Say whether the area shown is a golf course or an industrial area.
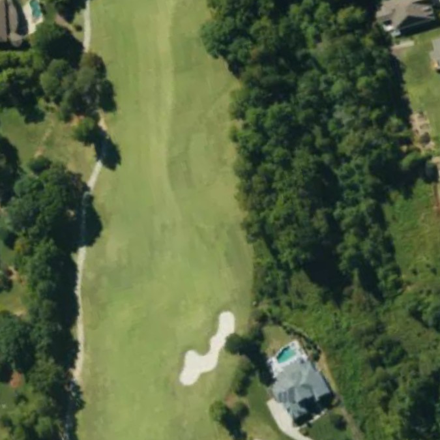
golf course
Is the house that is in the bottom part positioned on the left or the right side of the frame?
right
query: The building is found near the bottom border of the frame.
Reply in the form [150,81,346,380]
[272,360,331,427]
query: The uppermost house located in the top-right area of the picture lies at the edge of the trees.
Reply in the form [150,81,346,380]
[377,0,437,35]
